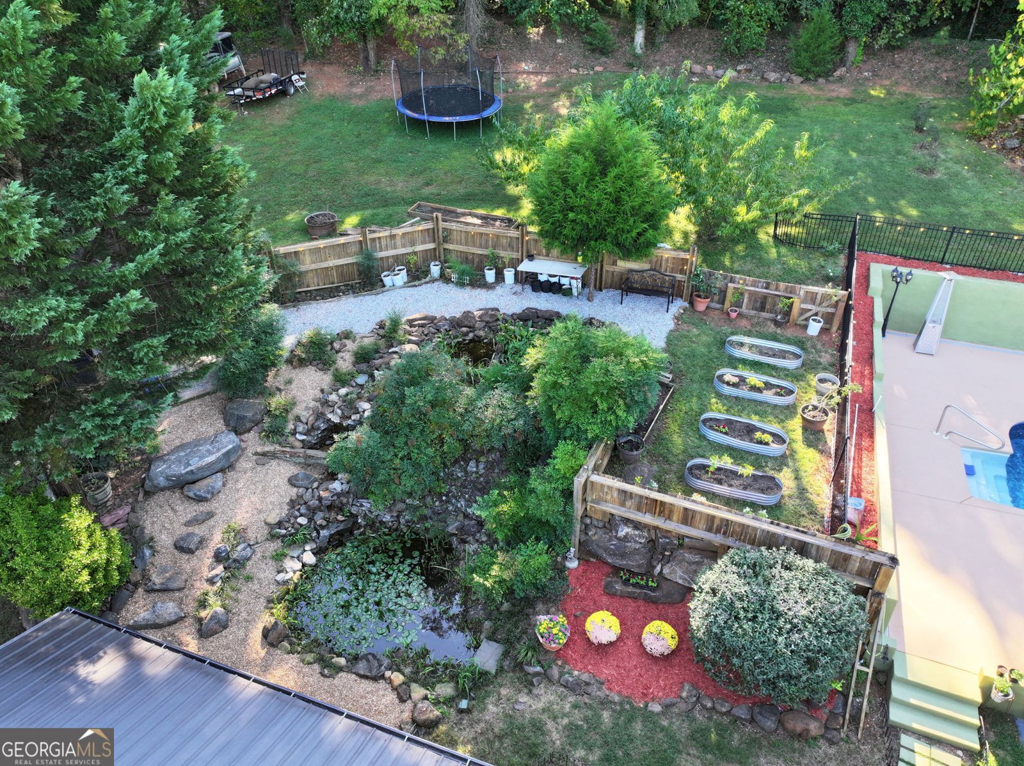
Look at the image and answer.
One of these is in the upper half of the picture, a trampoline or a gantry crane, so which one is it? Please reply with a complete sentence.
Looking in the upper half of the picture, you will find a trampoline.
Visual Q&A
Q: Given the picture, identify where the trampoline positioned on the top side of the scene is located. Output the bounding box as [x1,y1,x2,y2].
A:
[391,42,504,142]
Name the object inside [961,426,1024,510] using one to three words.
swimming pool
